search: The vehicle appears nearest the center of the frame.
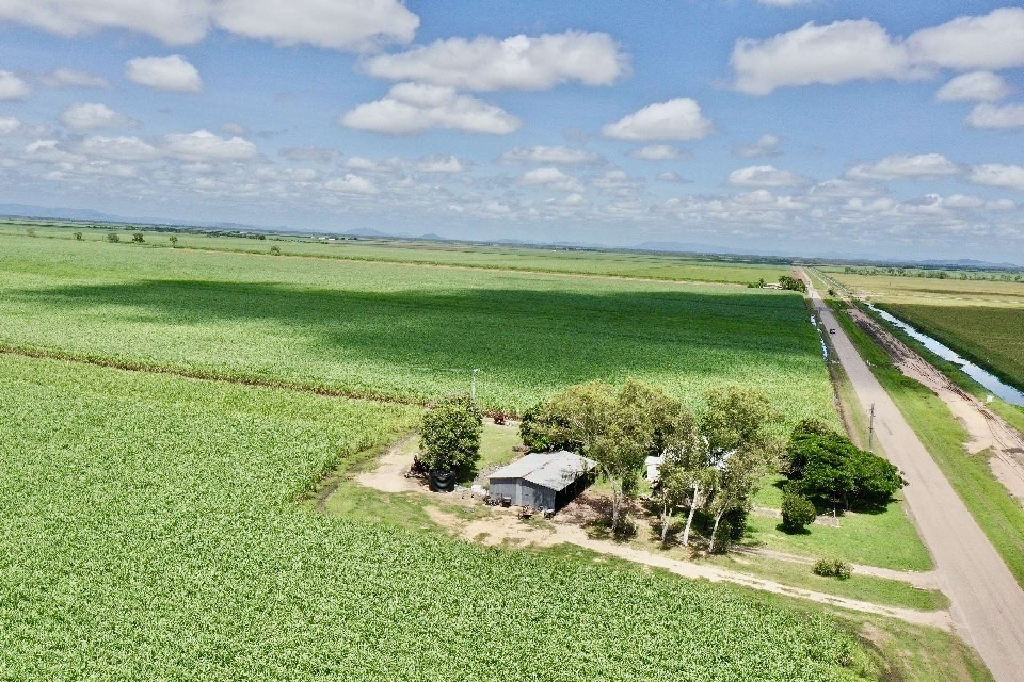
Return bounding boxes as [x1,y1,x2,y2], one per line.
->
[494,413,507,425]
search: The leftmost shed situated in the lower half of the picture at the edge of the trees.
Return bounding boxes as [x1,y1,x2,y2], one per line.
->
[487,453,594,514]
